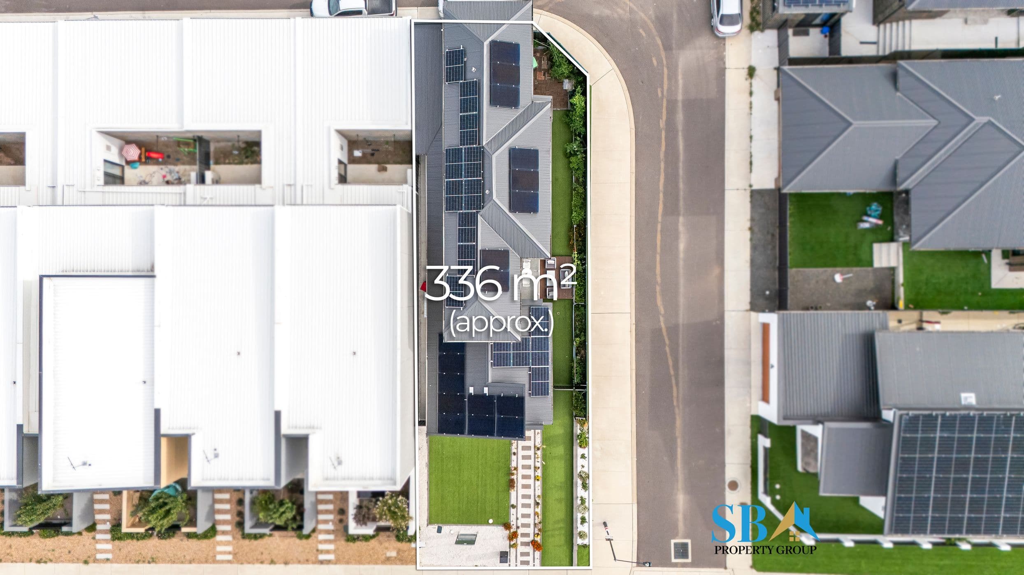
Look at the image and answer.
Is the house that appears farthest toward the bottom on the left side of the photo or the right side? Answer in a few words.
right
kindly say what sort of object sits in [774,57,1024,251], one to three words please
house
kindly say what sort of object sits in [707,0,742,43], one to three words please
car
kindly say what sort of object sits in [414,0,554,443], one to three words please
house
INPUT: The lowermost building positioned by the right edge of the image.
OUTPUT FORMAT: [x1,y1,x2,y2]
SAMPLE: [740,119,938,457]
[762,311,1024,539]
